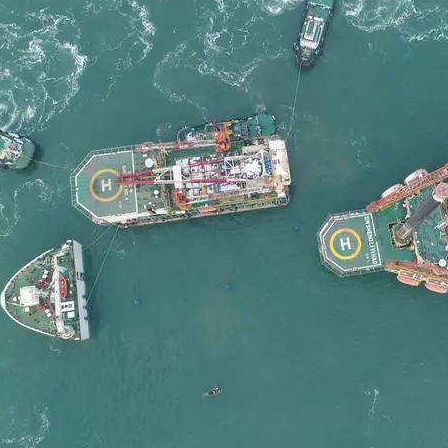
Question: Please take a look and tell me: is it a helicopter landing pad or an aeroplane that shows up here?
helicopter landing pad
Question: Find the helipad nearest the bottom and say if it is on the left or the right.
right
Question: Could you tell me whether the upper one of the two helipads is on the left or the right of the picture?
left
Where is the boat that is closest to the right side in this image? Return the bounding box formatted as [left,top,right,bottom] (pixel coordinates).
[424,280,448,294]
